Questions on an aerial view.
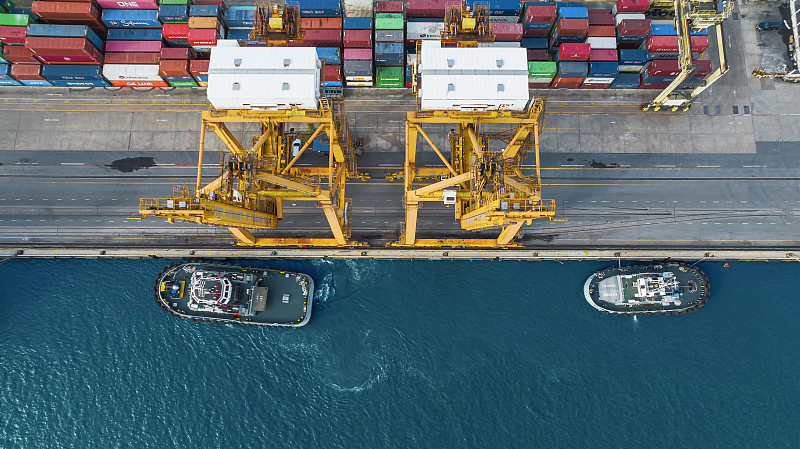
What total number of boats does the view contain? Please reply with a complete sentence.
The number of boats here is 2.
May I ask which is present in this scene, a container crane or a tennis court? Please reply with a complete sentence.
Of the two, only a container crane appears.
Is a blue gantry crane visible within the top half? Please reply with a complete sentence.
No, within the top half there is no blue gantry crane.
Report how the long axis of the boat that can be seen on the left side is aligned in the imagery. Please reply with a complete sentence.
The boat that can be seen on the left side has been laid out from left to right relative to the frame.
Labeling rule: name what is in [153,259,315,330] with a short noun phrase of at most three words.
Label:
boat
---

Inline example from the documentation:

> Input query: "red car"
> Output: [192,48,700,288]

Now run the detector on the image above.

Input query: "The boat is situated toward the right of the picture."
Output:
[584,261,712,318]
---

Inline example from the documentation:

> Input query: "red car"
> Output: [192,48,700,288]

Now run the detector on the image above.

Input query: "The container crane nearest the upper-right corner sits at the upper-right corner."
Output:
[641,0,739,109]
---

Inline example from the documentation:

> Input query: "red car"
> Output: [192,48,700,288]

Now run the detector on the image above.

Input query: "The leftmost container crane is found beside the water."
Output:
[127,0,369,248]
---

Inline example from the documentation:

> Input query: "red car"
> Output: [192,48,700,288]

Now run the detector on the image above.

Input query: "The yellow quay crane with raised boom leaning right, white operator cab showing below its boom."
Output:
[384,0,570,248]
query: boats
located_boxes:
[153,259,315,330]
[584,261,712,318]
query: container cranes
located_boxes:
[127,0,369,248]
[384,0,570,248]
[641,0,739,109]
